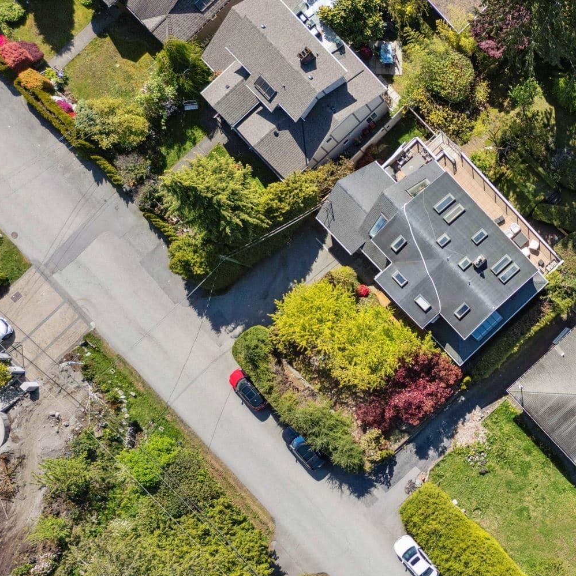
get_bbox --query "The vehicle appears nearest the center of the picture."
[231,366,269,416]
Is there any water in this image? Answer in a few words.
No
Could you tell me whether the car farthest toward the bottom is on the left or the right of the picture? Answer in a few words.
right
